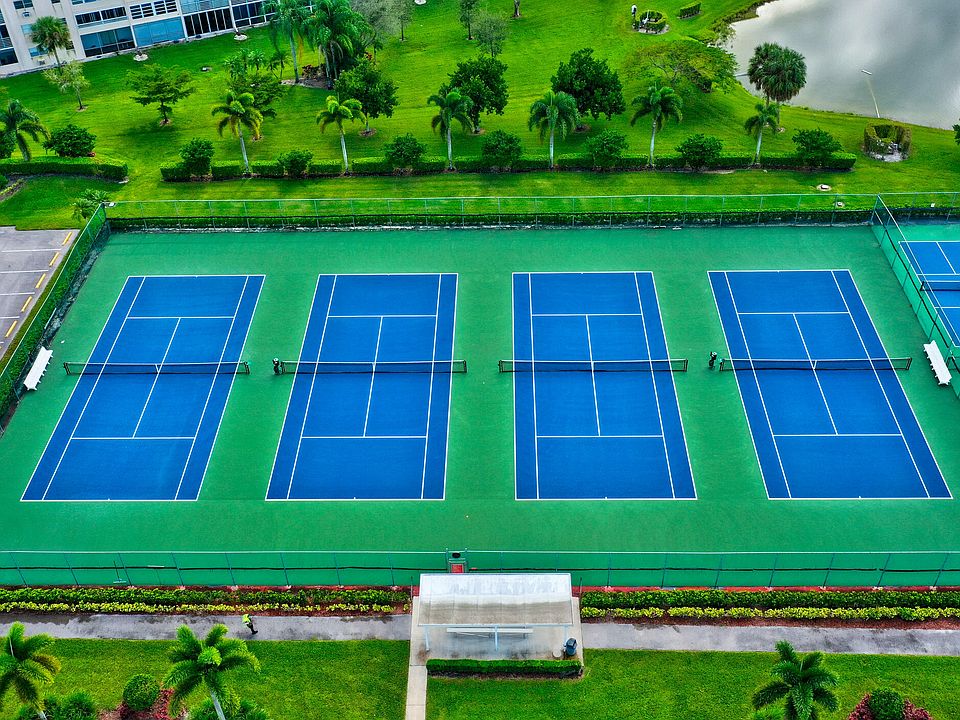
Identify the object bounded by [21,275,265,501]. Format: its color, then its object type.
blue tennis court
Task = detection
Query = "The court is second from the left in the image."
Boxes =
[266,274,458,500]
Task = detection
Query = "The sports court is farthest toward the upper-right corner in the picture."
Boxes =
[899,241,960,346]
